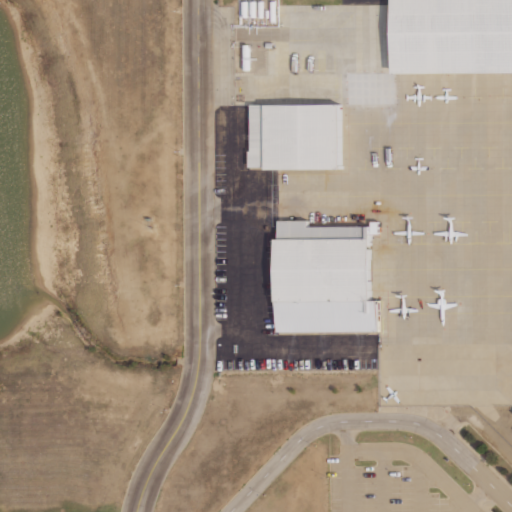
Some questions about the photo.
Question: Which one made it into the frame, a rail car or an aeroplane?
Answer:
aeroplane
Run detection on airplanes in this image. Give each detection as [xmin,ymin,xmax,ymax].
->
[432,216,468,244]
[409,158,429,176]
[392,217,424,246]
[427,292,458,326]
[382,386,400,404]
[388,295,419,320]
[436,88,458,104]
[406,85,432,106]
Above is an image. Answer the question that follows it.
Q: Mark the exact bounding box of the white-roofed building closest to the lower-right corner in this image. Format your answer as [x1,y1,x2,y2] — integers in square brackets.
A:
[271,221,381,333]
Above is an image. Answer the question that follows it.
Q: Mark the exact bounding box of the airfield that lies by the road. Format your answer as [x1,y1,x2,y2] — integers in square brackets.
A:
[212,0,512,426]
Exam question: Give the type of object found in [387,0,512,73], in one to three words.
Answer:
hangar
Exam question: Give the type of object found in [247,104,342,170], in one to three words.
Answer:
hangar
